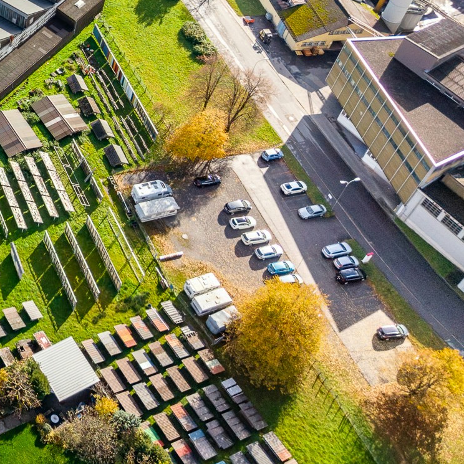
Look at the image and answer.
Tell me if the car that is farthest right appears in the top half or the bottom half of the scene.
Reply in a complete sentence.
The car that is farthest right sits in the bottom half of the picture.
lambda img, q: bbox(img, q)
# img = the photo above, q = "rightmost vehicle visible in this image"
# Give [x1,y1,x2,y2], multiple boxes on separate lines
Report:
[372,323,410,344]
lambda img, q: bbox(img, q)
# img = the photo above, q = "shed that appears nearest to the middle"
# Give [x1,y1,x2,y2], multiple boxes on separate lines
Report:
[103,144,129,171]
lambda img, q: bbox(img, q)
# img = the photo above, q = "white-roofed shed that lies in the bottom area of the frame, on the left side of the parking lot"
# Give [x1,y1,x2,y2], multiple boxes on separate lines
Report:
[27,337,98,411]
